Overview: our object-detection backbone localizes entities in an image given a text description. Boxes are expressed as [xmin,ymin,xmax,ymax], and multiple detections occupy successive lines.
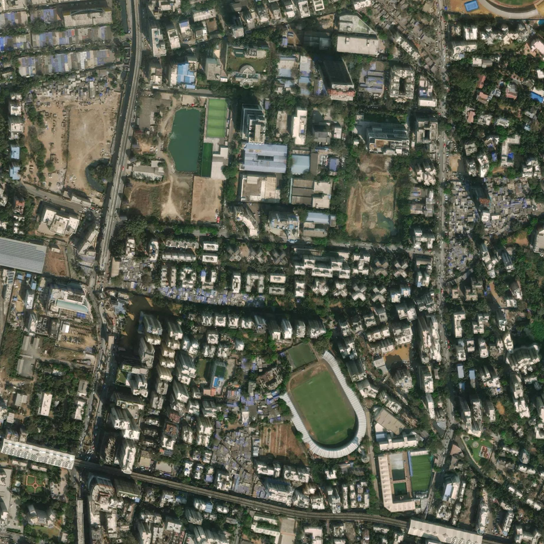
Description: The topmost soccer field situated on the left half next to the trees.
[206,94,229,138]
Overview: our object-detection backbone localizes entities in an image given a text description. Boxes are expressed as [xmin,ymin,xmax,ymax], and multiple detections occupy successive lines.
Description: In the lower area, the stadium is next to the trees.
[280,348,367,458]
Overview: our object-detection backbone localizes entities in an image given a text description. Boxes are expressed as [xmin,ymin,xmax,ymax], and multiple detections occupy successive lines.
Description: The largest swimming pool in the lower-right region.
[389,452,412,498]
